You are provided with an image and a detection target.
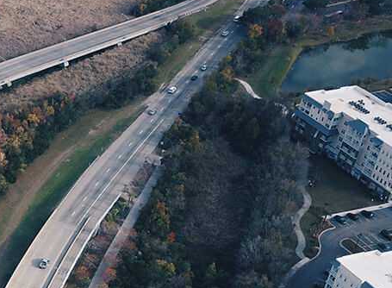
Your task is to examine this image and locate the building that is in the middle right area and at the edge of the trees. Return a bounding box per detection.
[285,81,392,199]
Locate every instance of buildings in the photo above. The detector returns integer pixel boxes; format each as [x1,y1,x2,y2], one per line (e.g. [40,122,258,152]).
[318,249,392,288]
[285,81,392,199]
